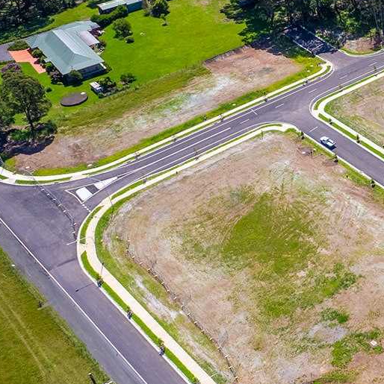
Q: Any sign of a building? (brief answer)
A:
Yes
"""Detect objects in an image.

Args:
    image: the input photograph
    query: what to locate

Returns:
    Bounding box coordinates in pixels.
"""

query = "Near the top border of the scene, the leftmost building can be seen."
[25,18,106,82]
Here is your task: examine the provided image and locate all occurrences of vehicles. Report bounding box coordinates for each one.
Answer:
[317,134,336,147]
